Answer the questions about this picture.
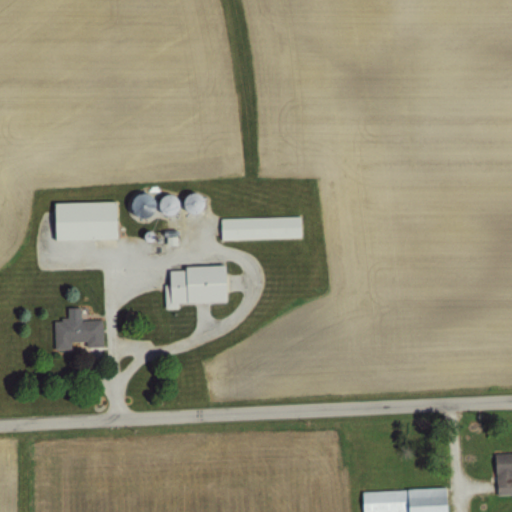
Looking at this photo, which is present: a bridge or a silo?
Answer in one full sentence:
There is a silo in the scene.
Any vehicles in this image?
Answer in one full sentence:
No, there isn't any vehicle down there.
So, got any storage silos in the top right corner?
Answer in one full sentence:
No, no storage silo can be made out in the top right corner.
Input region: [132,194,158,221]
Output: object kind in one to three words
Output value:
silo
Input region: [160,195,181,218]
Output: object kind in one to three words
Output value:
silo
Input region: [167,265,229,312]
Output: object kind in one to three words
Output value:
building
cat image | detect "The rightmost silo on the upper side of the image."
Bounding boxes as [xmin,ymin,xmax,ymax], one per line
[184,193,207,216]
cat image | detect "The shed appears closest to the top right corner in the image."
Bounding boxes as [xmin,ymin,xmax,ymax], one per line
[222,217,303,242]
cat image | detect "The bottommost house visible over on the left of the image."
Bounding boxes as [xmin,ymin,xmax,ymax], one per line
[55,308,104,351]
